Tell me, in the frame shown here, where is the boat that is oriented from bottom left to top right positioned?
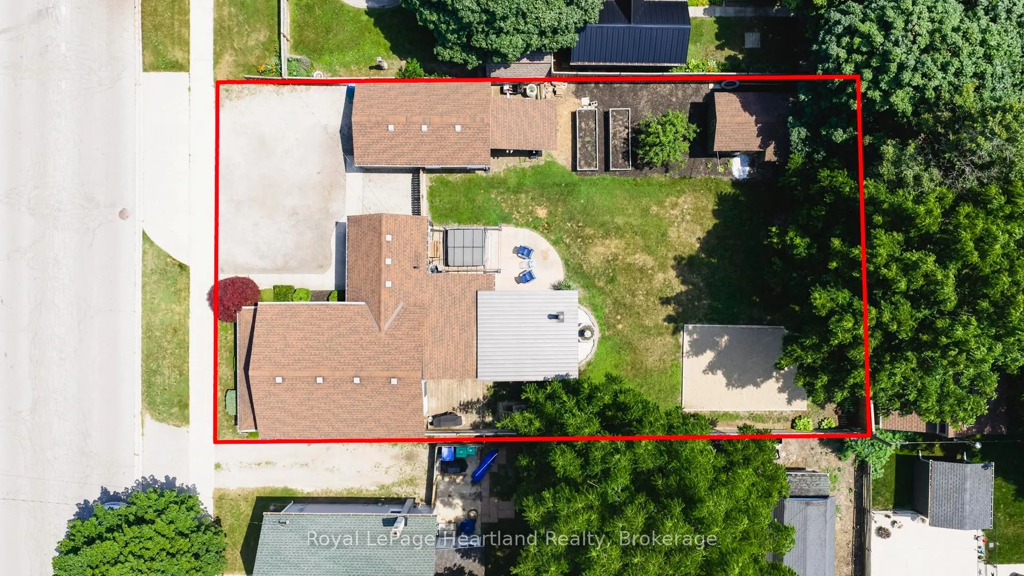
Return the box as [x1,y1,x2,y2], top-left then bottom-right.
[472,449,498,481]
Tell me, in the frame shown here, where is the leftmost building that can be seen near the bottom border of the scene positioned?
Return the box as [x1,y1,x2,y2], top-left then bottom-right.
[254,496,437,576]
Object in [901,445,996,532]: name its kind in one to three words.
shed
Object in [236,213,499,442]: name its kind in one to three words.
house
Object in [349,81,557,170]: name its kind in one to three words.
building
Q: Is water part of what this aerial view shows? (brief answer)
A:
No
